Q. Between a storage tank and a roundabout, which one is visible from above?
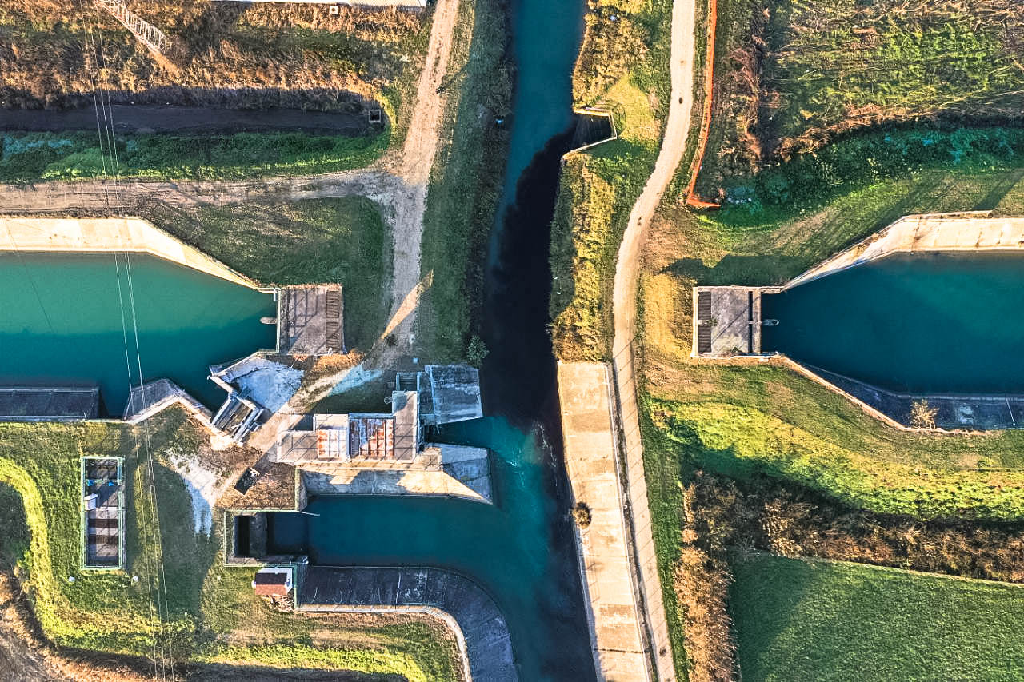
storage tank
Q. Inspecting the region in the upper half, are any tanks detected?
No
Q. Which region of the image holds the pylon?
top left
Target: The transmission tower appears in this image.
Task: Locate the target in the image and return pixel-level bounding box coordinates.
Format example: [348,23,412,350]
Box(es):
[99,0,174,53]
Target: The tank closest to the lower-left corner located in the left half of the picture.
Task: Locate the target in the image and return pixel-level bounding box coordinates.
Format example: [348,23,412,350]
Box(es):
[76,457,125,572]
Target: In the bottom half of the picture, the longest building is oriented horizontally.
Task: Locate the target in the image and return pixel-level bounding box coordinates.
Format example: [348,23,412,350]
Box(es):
[271,390,449,473]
